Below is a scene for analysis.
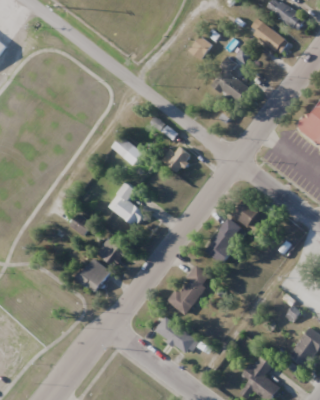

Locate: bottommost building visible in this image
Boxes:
[240,358,280,398]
